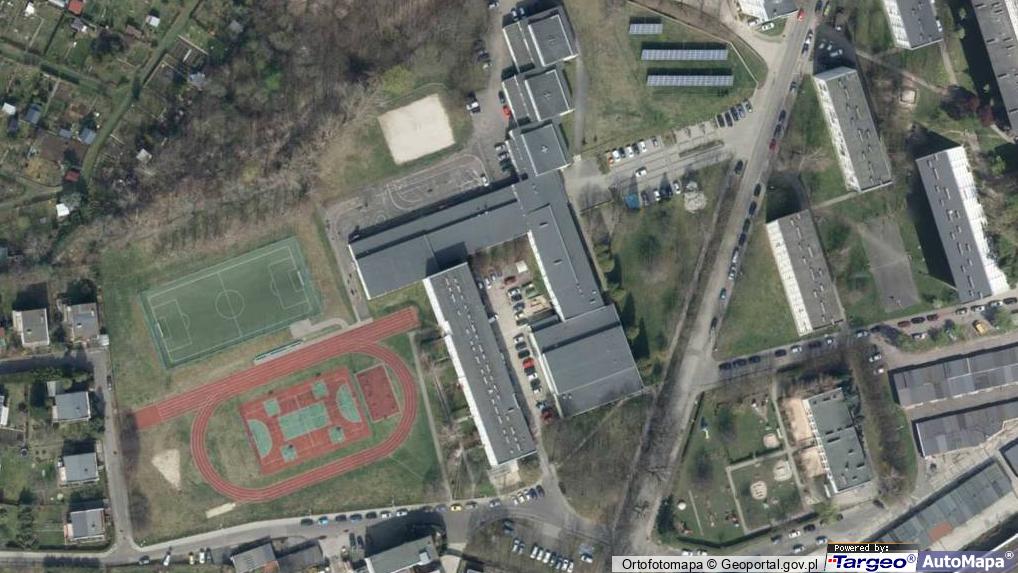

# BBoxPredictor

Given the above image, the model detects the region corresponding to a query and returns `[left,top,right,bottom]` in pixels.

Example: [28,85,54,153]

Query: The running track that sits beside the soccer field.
[135,305,420,503]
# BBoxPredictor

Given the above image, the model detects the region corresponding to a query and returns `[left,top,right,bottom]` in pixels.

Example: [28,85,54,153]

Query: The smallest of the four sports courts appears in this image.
[356,364,400,422]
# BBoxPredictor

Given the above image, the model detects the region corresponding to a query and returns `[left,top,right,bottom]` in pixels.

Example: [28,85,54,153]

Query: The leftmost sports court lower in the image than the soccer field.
[240,366,373,476]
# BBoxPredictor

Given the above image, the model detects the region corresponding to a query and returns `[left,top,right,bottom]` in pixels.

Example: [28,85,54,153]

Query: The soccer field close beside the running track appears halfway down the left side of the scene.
[139,236,321,368]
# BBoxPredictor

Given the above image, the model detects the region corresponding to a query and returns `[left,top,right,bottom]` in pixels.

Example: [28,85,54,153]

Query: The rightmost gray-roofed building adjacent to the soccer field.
[347,6,645,464]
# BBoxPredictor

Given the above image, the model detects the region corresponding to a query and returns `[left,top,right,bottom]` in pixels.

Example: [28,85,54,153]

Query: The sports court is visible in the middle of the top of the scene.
[378,93,455,165]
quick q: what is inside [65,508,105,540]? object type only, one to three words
house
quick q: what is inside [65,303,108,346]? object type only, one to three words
house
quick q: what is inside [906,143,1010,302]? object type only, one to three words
building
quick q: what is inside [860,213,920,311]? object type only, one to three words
sports court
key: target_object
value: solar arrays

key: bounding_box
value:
[647,76,734,86]
[642,50,729,60]
[628,23,665,33]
